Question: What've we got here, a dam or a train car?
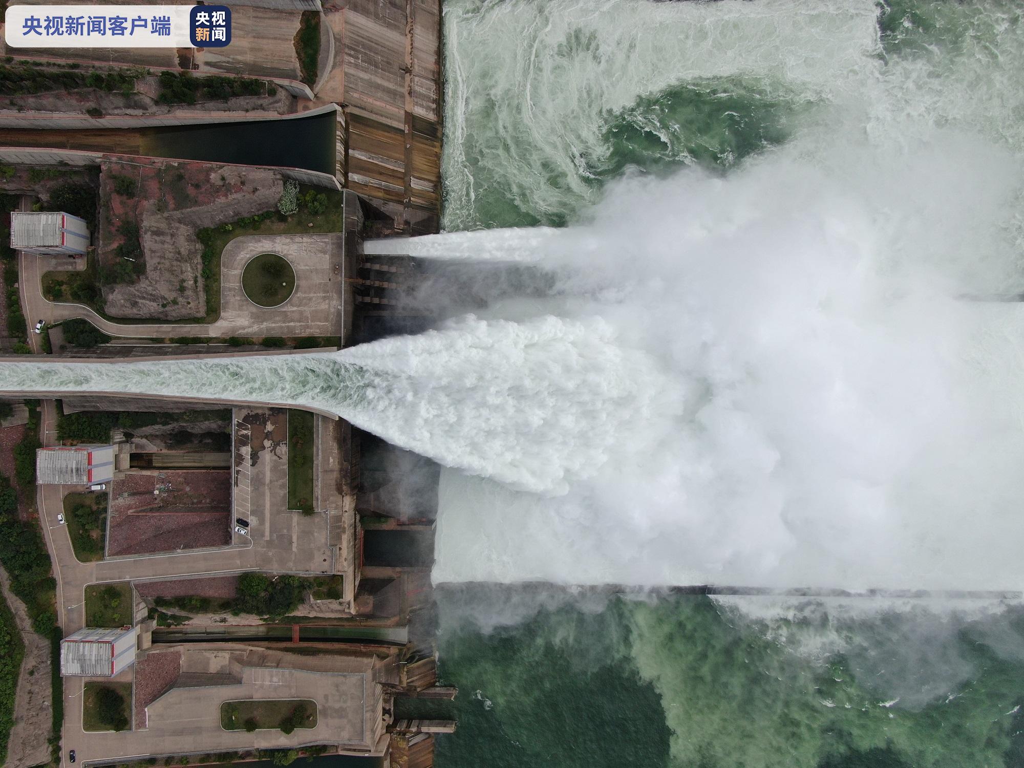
dam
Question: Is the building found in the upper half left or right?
left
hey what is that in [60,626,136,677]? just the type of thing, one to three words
building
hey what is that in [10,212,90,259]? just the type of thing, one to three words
building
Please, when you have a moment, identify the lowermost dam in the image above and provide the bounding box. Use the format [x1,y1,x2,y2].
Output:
[320,415,371,613]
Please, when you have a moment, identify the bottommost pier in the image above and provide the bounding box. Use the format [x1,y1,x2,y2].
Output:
[399,714,457,733]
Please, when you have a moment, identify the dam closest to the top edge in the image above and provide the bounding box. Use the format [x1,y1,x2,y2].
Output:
[342,192,376,349]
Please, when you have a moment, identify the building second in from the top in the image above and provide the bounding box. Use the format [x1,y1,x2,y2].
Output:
[37,444,114,485]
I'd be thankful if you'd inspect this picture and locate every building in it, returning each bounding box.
[60,626,136,677]
[37,444,114,485]
[10,212,90,259]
